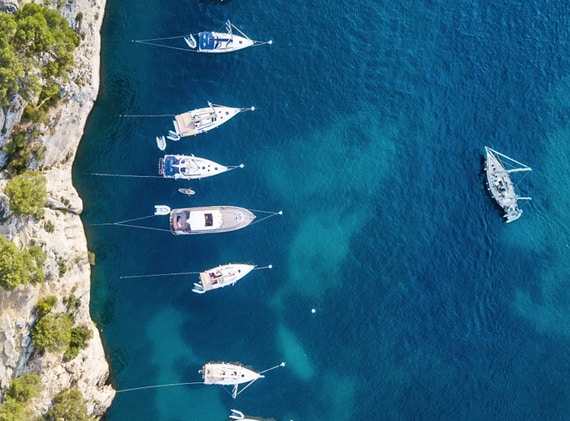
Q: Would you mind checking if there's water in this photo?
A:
Yes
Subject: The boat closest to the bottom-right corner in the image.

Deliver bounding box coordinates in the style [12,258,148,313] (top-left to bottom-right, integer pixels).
[503,209,522,223]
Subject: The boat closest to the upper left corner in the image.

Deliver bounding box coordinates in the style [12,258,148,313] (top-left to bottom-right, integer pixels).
[184,33,197,49]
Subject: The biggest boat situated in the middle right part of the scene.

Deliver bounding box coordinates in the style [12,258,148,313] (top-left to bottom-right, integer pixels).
[484,146,530,214]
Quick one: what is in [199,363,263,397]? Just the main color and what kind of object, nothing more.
white boat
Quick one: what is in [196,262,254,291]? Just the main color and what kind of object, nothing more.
white boat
